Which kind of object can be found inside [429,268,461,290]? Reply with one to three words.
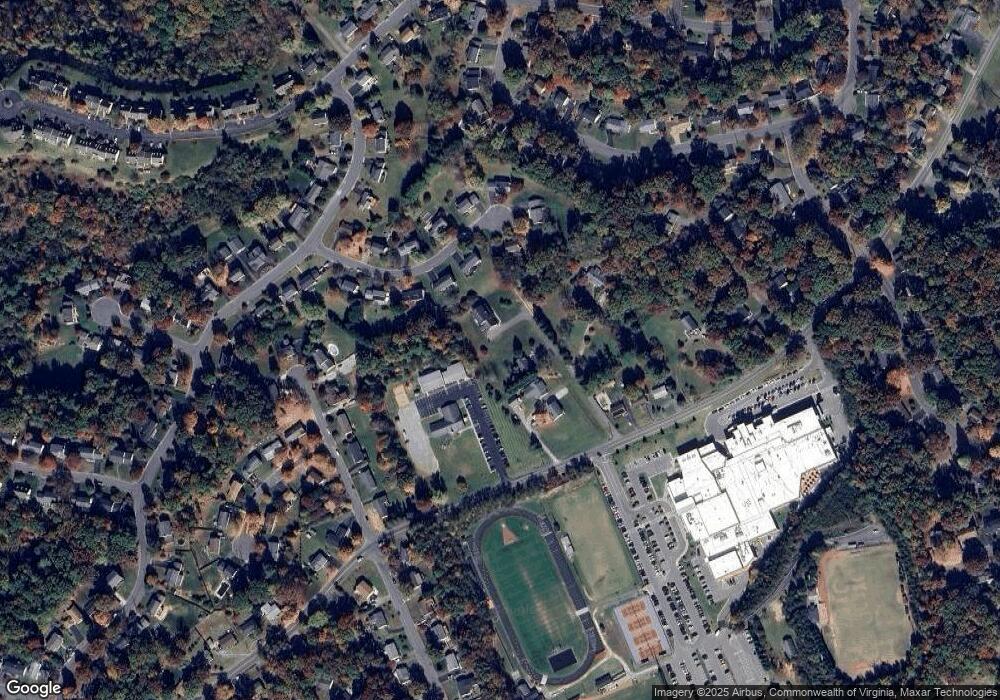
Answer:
house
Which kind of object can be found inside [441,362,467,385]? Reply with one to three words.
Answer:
building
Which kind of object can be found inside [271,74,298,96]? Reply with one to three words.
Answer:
house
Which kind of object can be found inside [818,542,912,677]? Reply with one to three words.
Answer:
sports field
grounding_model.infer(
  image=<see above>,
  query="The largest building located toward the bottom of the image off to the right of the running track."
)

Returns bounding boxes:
[668,407,838,579]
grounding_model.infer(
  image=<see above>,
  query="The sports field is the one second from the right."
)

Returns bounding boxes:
[549,477,641,599]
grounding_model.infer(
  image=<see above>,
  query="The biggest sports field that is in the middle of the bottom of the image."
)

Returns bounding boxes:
[485,517,587,677]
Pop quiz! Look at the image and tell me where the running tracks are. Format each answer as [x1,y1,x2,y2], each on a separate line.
[476,507,609,687]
